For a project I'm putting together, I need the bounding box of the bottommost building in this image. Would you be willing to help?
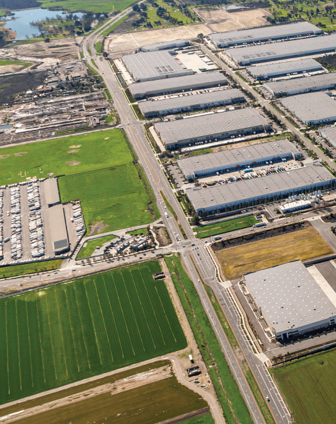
[243,260,336,341]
